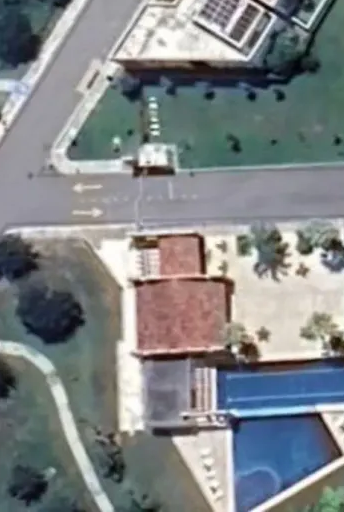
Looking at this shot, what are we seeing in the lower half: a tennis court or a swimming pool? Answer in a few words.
swimming pool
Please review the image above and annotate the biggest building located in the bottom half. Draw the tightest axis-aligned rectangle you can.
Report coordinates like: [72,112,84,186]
[132,273,230,354]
